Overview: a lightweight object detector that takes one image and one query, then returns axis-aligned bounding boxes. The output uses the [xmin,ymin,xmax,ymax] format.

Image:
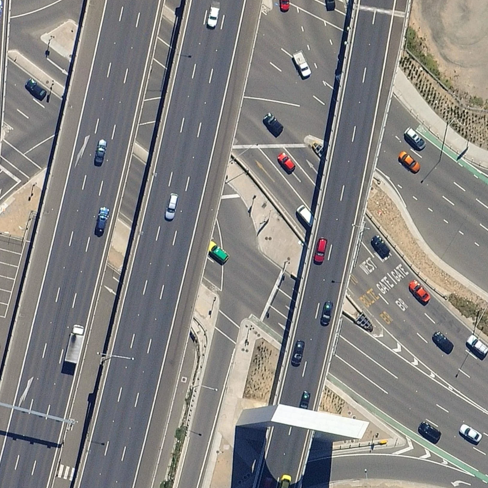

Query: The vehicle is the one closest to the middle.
[209,241,231,264]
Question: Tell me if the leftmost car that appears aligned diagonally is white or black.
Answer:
black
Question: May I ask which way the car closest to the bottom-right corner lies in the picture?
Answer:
at an angle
